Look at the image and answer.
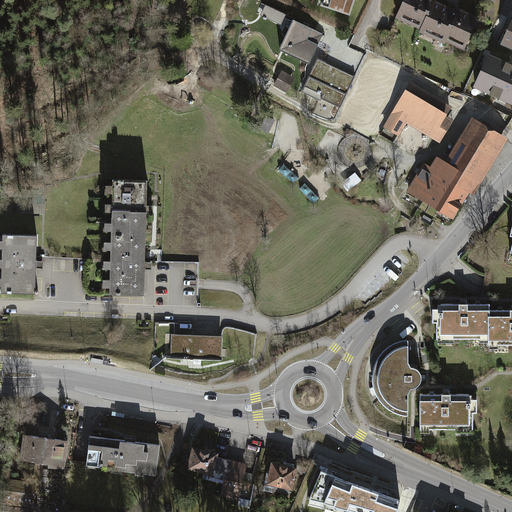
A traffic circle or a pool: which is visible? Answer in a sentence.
There is a traffic circle in the scene.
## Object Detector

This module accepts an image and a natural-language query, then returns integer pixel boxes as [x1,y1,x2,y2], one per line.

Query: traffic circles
[274,360,344,430]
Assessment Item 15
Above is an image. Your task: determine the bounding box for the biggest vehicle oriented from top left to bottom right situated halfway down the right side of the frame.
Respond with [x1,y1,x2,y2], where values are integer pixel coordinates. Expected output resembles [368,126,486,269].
[384,266,399,281]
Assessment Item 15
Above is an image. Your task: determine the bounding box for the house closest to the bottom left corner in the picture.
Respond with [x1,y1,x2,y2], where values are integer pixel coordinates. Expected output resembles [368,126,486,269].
[21,434,68,468]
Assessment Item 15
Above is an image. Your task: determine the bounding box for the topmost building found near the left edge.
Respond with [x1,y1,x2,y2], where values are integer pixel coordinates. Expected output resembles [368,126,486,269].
[0,234,44,294]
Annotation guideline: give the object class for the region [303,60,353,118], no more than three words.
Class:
building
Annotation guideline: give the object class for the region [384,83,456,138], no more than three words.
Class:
house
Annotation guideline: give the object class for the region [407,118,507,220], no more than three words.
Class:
barn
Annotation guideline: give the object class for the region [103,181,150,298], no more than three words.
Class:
building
